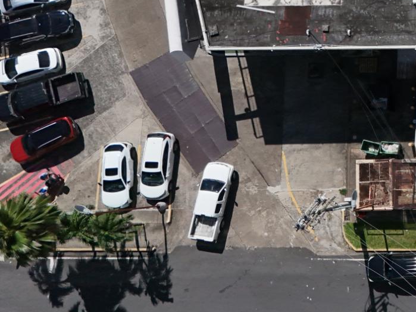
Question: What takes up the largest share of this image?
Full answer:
Most of the picture is covered by paved ground.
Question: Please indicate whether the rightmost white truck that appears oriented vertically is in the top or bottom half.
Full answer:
The rightmost white truck that appears oriented vertically sits in the bottom half of the picture.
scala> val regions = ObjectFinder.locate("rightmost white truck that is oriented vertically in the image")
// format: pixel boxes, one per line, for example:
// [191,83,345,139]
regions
[188,161,236,246]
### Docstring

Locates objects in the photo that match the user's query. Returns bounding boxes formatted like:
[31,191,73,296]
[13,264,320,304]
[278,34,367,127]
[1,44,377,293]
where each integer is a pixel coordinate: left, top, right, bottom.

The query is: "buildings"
[356,161,416,208]
[165,0,416,64]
